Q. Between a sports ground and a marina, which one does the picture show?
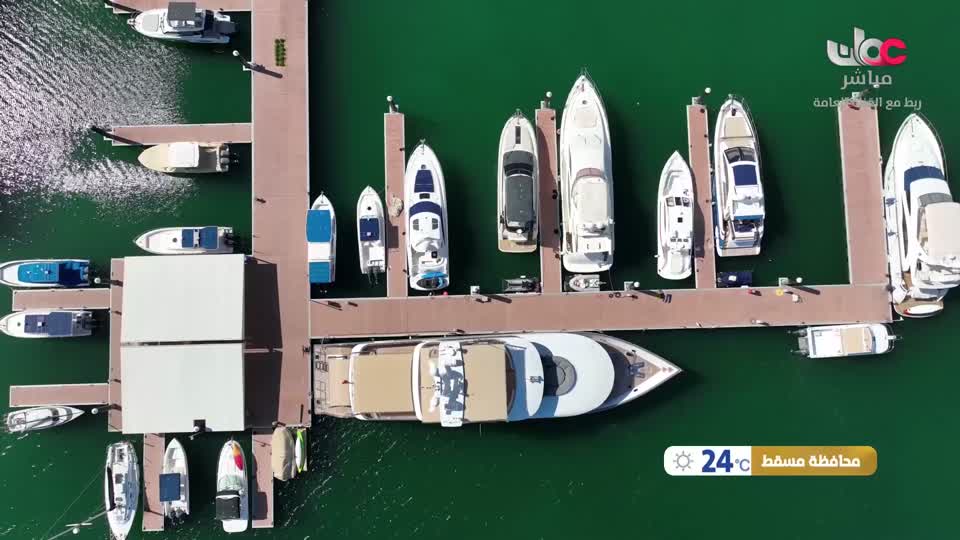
marina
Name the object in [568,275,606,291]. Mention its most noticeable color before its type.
white boat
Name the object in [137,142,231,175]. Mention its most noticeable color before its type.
white boat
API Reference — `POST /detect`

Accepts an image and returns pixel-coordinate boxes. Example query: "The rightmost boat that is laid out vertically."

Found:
[869,111,960,322]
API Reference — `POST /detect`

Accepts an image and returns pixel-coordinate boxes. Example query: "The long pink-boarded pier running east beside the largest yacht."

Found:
[310,284,889,338]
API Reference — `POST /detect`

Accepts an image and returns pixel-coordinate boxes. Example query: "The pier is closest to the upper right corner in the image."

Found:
[836,105,883,284]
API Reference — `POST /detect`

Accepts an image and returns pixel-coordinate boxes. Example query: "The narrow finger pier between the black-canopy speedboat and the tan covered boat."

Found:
[251,432,274,527]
